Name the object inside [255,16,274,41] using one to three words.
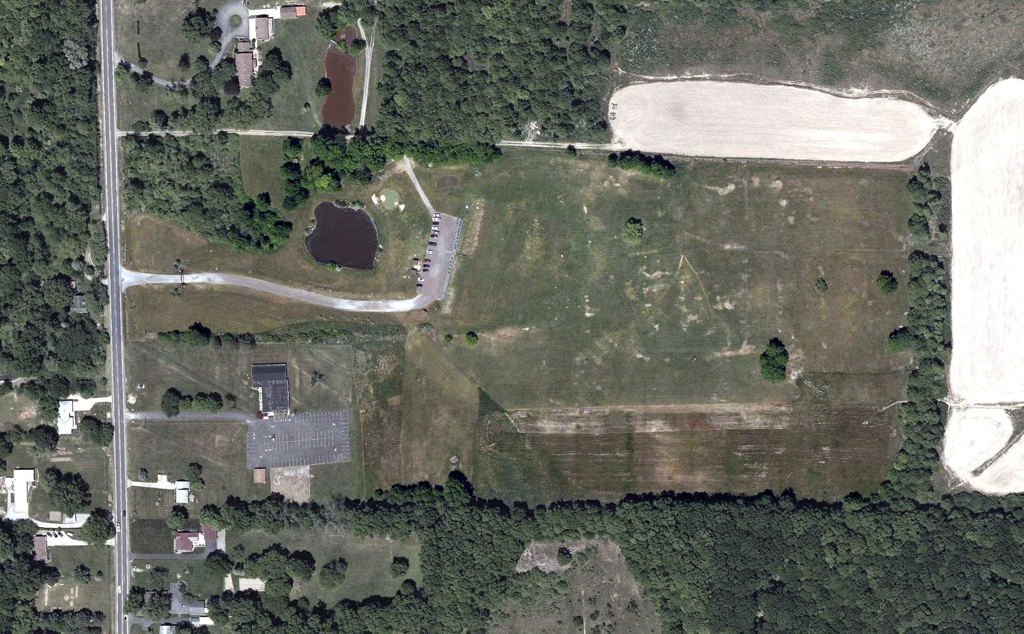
building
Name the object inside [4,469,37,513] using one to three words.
house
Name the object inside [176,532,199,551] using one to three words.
house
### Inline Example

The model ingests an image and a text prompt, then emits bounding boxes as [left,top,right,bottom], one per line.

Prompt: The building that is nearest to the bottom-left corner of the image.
[33,535,47,562]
